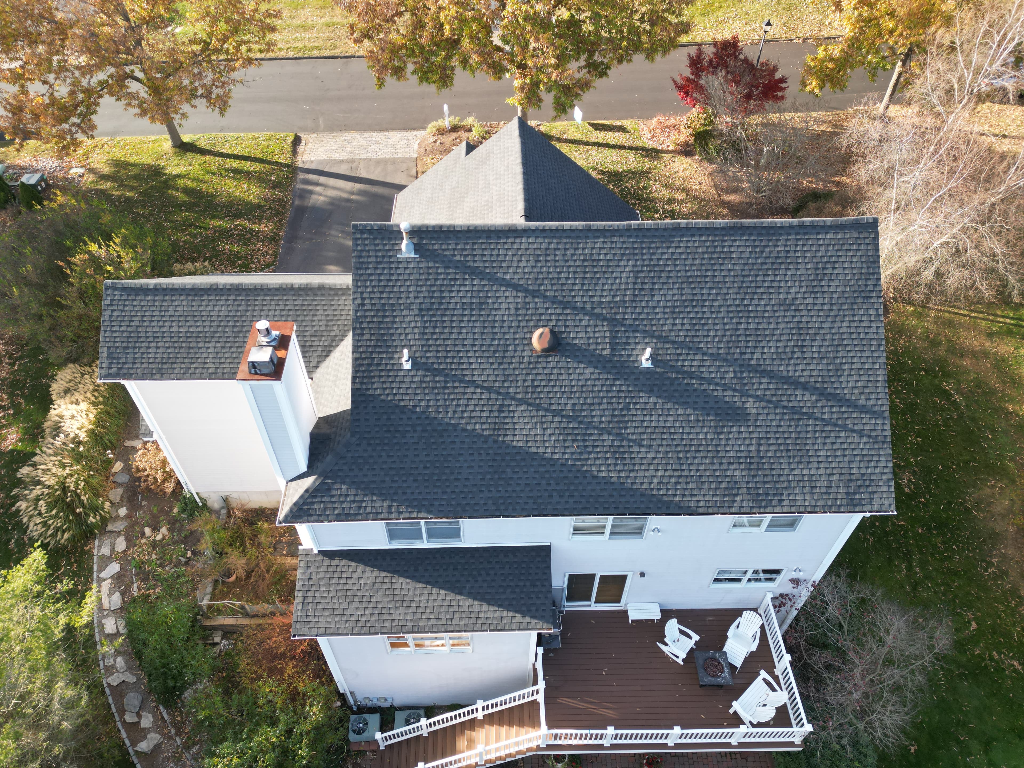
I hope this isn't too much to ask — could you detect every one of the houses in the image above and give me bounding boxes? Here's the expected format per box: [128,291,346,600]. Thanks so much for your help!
[98,118,900,714]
